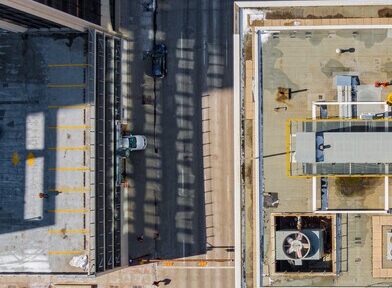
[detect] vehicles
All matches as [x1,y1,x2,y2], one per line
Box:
[150,44,167,78]
[123,134,148,151]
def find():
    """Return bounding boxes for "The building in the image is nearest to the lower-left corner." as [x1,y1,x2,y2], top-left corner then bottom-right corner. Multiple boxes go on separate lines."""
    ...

[0,28,123,276]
